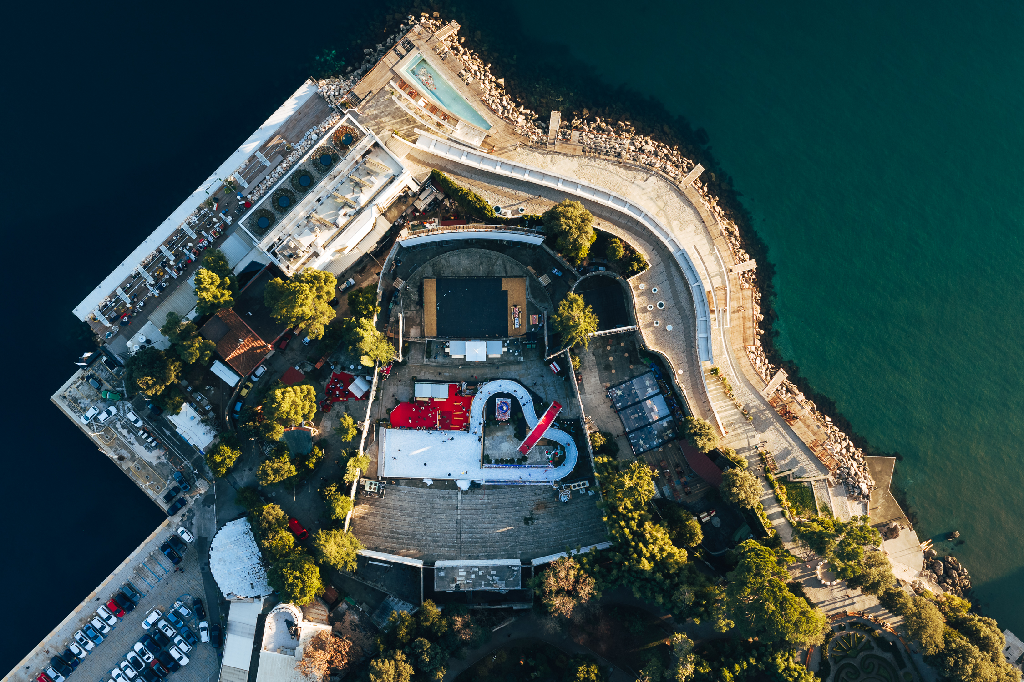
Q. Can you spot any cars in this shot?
Yes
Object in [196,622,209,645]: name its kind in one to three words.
vehicle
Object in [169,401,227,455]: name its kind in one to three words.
building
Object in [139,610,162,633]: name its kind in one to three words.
car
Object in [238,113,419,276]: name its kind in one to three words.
building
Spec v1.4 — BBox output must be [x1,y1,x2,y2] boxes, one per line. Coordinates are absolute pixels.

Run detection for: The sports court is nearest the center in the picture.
[378,379,590,485]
